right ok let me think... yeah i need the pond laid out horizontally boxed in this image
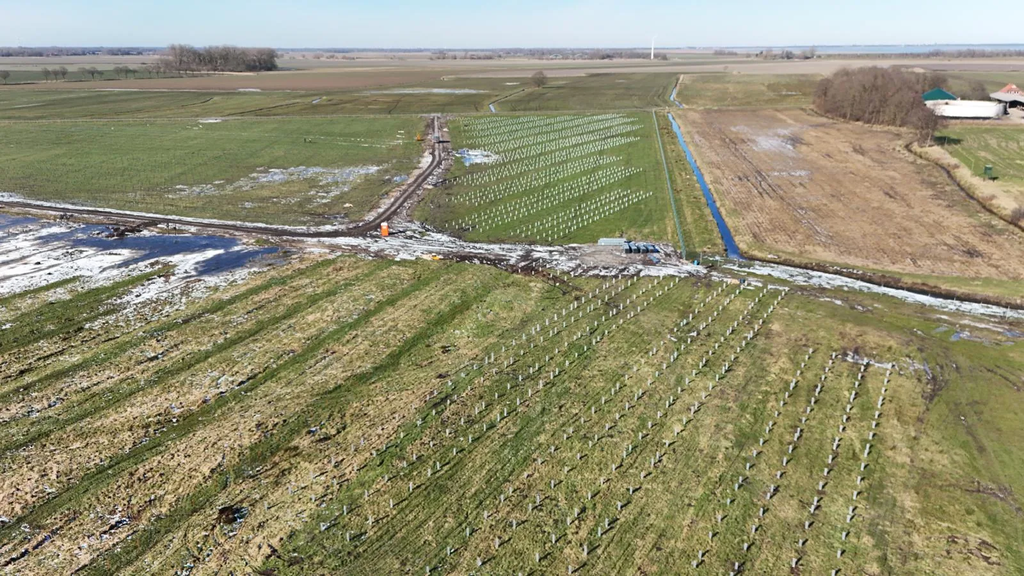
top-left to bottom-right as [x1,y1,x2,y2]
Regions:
[0,217,285,279]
